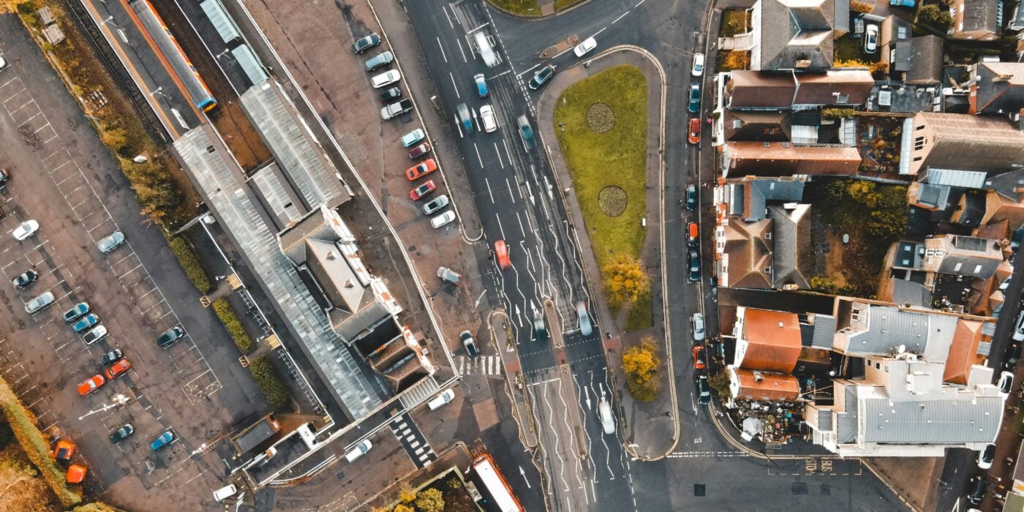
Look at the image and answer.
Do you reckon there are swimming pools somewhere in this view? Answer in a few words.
No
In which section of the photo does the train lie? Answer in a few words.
top left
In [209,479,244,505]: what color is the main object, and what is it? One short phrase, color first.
white vehicle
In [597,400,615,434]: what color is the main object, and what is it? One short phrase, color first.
white car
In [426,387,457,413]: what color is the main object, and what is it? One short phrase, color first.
white vehicle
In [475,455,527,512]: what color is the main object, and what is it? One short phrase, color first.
white bus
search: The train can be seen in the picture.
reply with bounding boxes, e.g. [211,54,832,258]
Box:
[123,0,218,116]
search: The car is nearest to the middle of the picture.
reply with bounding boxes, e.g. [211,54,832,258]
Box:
[493,238,511,268]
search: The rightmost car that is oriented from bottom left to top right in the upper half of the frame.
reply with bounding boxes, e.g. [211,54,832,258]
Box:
[572,34,599,59]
